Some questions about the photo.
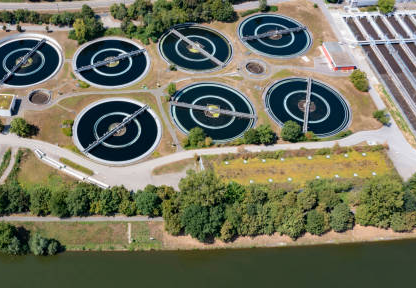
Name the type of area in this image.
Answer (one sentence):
What you see here is an industrial area.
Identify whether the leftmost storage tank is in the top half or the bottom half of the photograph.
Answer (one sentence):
You can find the leftmost storage tank in the top half.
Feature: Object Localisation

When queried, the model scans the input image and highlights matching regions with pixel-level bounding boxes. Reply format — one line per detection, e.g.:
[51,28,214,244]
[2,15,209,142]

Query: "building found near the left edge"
[0,94,16,117]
